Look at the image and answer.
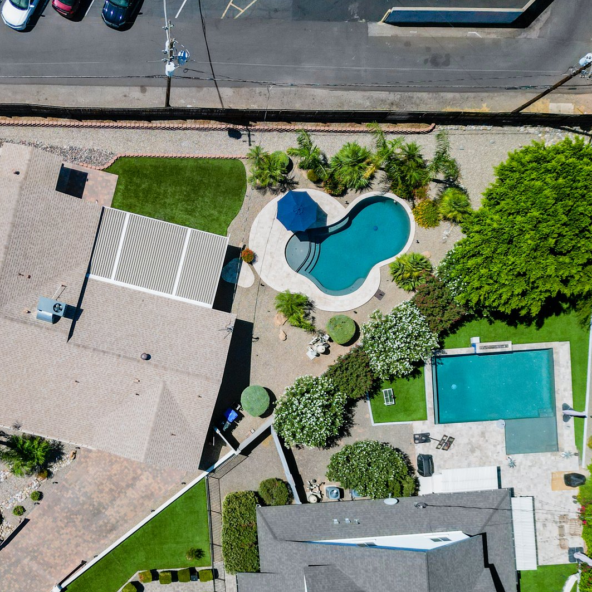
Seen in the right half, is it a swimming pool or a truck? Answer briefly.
swimming pool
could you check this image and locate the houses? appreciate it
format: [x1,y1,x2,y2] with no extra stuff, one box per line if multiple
[234,488,520,592]
[0,143,236,471]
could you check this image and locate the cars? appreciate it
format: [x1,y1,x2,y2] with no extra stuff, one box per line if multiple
[102,0,141,30]
[50,0,86,19]
[5,0,45,31]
